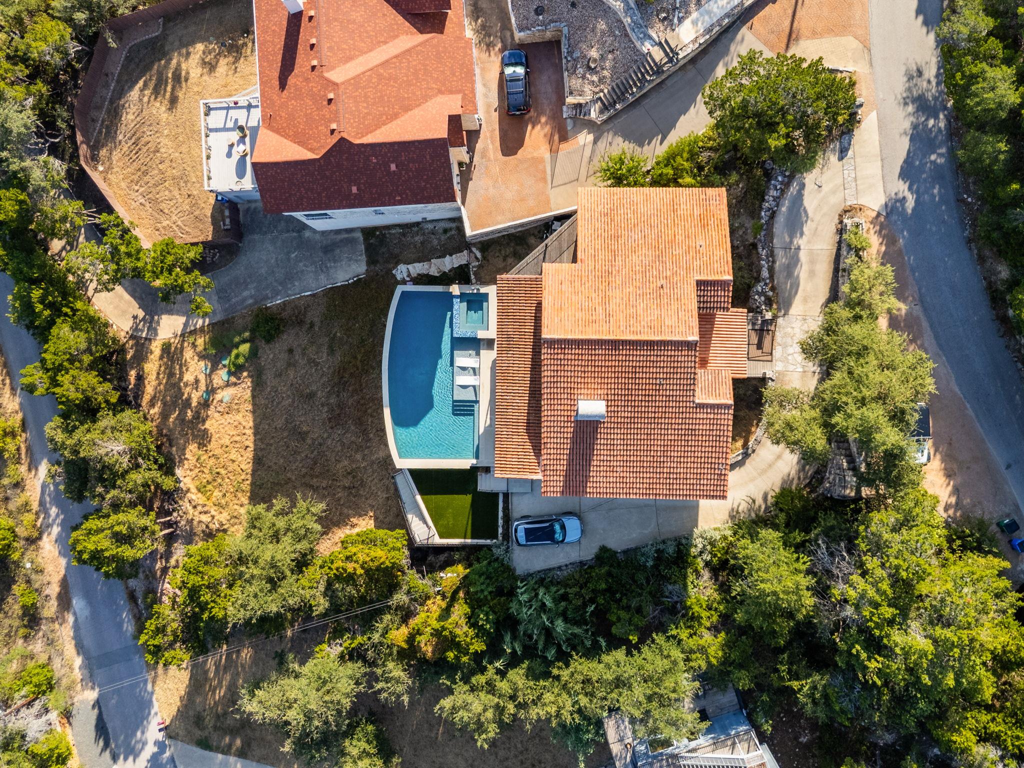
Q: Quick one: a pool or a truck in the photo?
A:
pool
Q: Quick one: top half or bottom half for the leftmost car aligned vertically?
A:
top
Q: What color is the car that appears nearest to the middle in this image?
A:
blue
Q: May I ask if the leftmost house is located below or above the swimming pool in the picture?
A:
above it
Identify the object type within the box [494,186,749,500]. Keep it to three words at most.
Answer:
house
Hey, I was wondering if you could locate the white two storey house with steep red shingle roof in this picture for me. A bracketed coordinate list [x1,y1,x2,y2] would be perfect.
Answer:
[252,0,479,233]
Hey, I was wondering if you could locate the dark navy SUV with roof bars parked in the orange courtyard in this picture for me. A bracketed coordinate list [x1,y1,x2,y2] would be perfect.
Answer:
[497,49,531,122]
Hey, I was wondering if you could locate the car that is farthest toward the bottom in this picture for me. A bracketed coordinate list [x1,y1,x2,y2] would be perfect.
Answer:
[515,513,583,548]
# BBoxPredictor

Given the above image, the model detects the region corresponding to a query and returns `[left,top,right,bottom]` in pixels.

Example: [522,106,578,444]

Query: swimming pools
[382,284,495,468]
